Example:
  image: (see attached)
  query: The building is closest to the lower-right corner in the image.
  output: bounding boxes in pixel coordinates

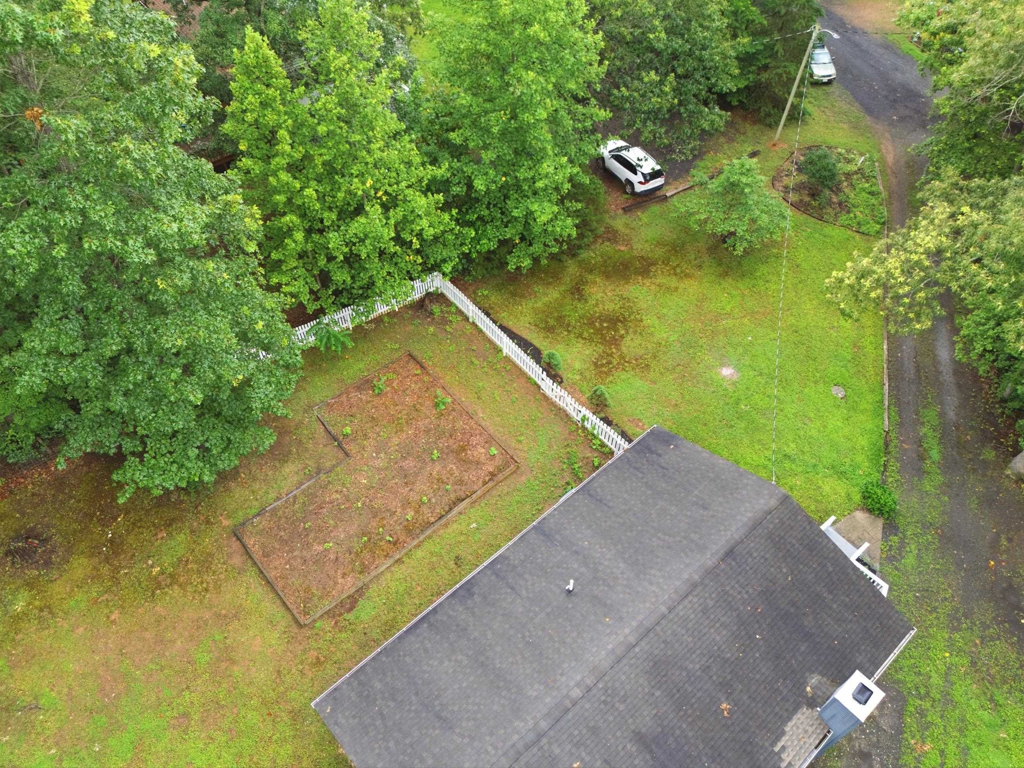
[310,423,917,768]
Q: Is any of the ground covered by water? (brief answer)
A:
No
